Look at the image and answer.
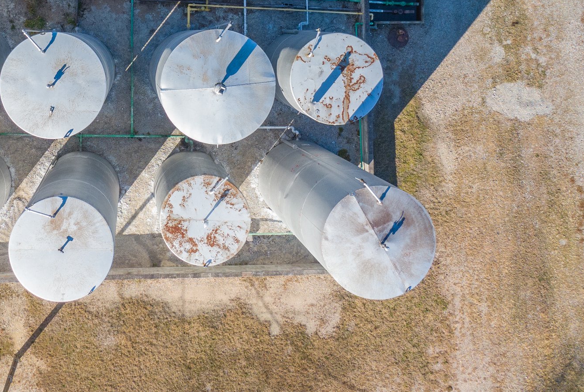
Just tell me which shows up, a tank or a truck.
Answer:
tank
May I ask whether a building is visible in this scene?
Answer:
No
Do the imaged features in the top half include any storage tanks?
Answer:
Yes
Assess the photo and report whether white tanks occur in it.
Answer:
Yes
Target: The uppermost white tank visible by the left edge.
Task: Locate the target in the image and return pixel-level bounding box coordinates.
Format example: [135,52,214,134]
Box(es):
[0,29,113,140]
